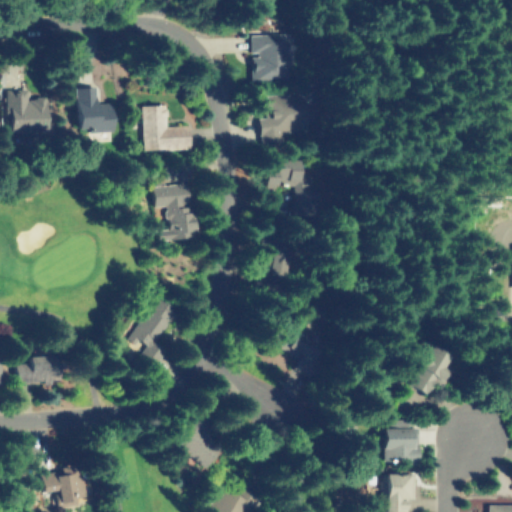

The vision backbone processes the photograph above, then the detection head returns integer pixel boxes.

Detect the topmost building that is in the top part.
[249,35,284,82]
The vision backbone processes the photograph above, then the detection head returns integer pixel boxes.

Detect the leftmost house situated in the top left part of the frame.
[8,90,52,132]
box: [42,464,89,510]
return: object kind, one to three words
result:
house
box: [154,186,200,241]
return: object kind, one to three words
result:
house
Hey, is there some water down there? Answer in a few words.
No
